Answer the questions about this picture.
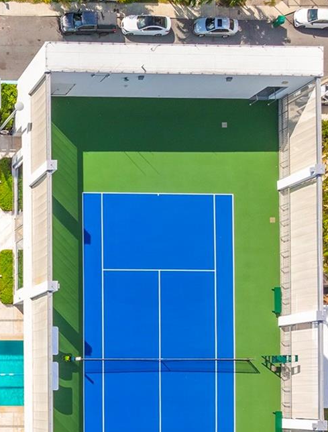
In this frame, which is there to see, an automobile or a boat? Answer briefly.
automobile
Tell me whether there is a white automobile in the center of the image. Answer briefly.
No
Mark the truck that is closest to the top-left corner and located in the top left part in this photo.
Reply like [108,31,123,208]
[58,8,117,36]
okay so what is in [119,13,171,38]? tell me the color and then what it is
white car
